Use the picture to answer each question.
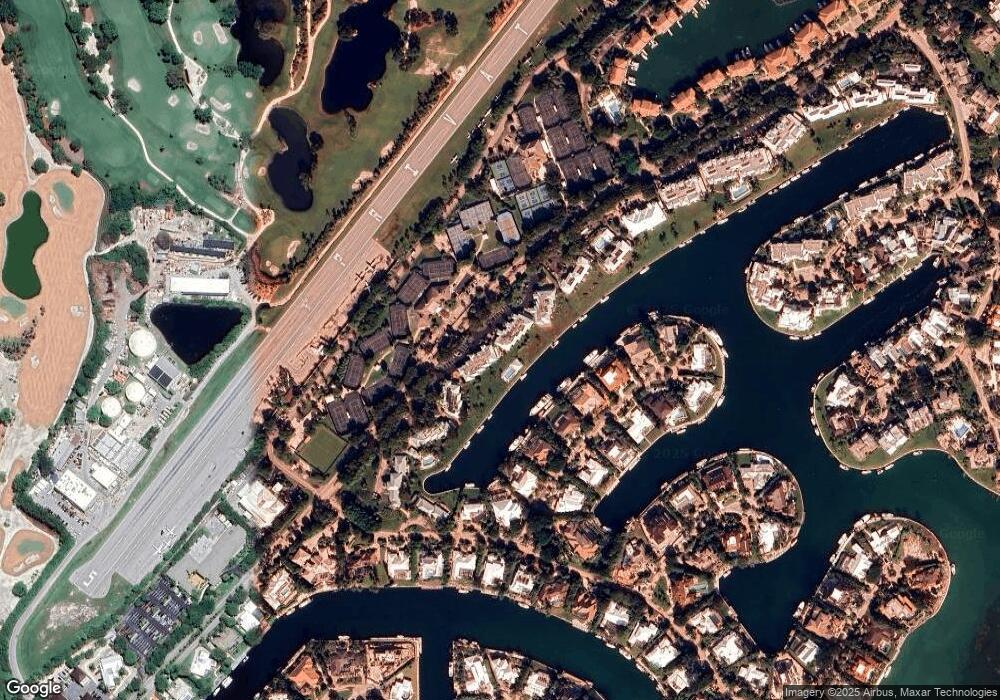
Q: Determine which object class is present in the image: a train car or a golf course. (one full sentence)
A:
Looking from above, you can make out a golf course.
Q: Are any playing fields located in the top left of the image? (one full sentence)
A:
No, in the top left of the image there is no playing field.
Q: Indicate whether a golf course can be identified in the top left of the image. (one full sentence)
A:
Yes, a golf course shows up in the top left of the image.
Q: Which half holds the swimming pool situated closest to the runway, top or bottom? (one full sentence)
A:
The swimming pool situated closest to the runway sits in the top half of the picture.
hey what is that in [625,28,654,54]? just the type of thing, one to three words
house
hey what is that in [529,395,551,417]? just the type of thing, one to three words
boat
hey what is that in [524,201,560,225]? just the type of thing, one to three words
sports court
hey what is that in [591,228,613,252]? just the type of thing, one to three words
swimming pool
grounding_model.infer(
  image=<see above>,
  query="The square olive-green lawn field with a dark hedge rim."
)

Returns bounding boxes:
[297,425,347,473]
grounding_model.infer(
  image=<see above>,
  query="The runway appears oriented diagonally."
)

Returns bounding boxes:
[69,0,555,597]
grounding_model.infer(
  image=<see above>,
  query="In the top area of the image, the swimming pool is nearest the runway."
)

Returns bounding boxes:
[600,93,628,121]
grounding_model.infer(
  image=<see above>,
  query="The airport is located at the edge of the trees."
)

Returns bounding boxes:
[69,0,555,597]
